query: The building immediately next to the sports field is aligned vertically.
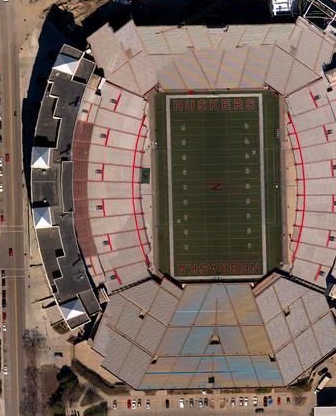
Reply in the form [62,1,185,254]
[29,44,104,330]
